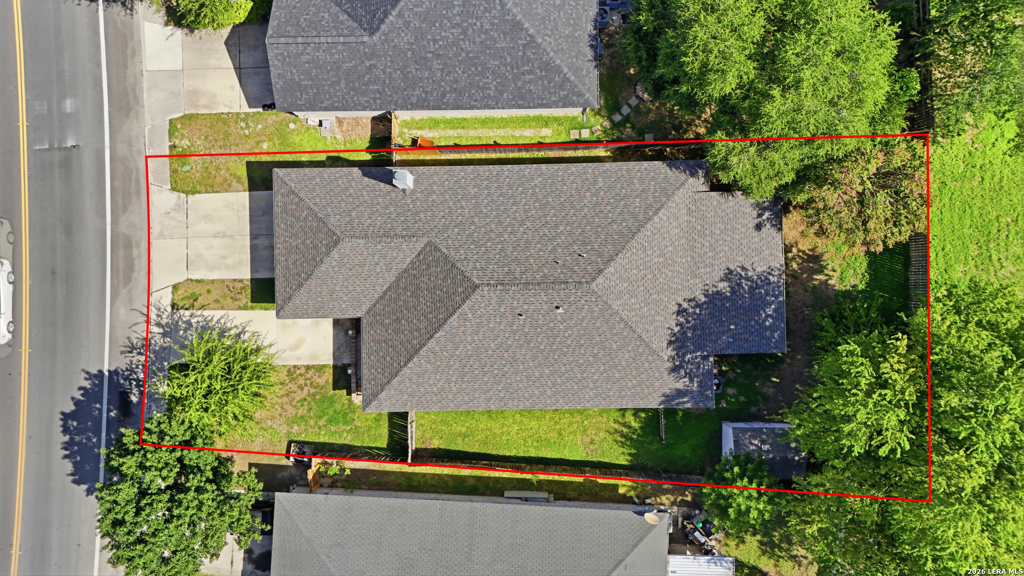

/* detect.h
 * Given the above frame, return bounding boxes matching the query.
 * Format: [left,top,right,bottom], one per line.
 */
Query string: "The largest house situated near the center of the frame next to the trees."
[272,161,786,415]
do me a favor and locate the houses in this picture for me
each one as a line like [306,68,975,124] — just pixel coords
[270,486,676,576]
[266,0,600,126]
[272,161,786,415]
